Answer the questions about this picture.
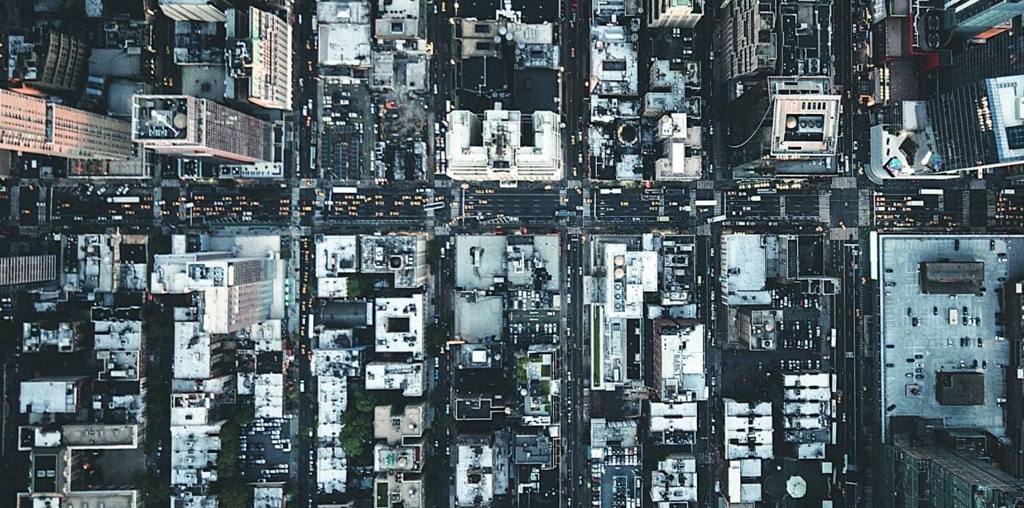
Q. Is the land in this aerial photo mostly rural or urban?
urban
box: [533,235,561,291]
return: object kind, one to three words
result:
building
